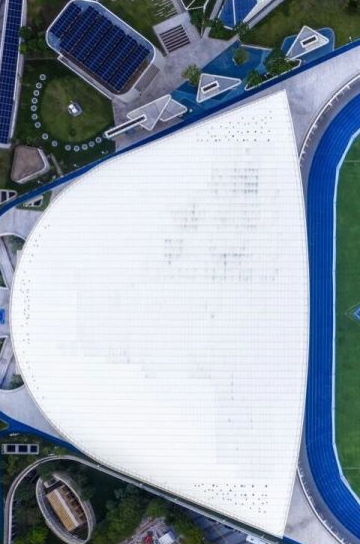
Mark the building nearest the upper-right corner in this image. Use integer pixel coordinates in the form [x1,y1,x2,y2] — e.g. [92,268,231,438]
[287,26,330,58]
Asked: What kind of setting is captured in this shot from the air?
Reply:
sports ground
